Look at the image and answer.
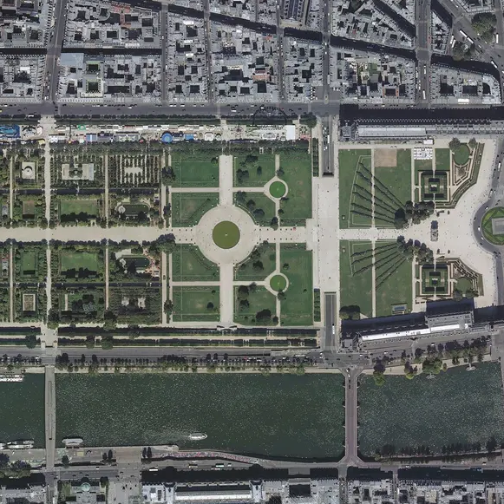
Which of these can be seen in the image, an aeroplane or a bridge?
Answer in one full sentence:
Of the two, only a bridge appears.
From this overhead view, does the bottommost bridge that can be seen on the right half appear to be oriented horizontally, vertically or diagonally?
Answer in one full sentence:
The bottommost bridge that can be seen on the right half has been laid out vertically relative to the frame.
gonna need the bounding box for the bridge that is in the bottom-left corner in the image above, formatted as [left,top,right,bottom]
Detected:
[43,365,56,473]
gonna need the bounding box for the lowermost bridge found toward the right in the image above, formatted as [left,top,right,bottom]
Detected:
[334,365,370,469]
